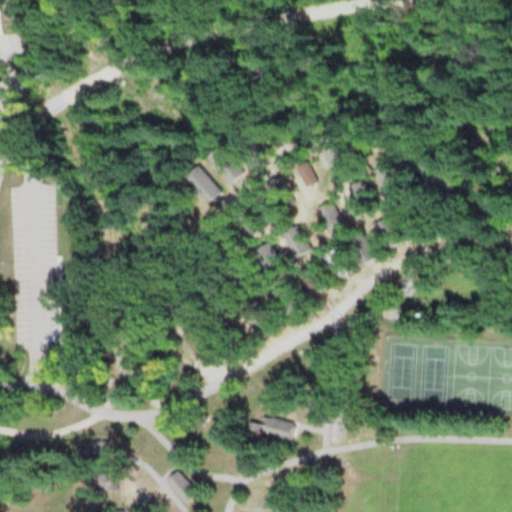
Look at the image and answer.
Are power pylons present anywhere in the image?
No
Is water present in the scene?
No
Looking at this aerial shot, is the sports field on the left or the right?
right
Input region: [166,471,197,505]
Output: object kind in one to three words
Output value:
building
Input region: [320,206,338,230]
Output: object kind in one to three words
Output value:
building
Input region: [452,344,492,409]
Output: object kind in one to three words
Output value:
basketball court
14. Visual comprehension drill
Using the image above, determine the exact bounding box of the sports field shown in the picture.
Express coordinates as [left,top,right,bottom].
[398,446,512,512]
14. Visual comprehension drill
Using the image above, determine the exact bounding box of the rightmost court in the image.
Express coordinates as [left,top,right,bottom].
[488,346,512,411]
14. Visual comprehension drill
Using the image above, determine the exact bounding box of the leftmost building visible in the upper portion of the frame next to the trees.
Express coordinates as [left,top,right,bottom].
[187,166,222,202]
